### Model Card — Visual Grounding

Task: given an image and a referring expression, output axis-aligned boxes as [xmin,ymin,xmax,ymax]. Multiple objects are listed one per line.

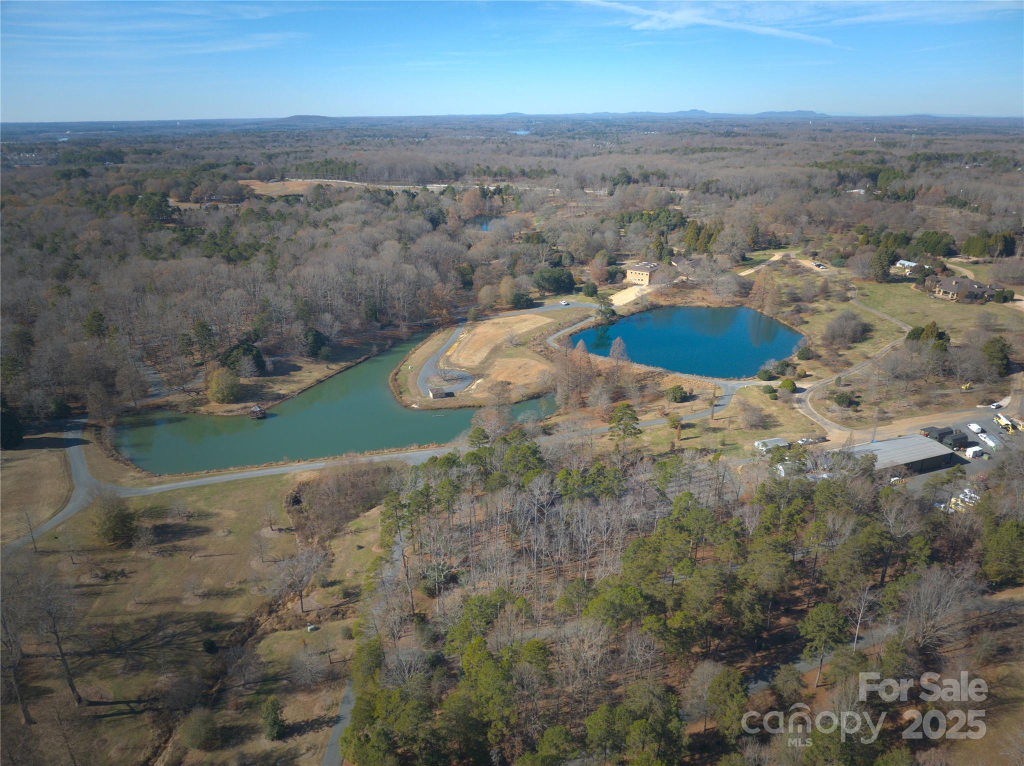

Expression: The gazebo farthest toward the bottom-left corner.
[248,404,266,418]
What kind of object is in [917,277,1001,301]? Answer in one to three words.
house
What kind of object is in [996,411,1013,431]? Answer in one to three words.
vehicle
